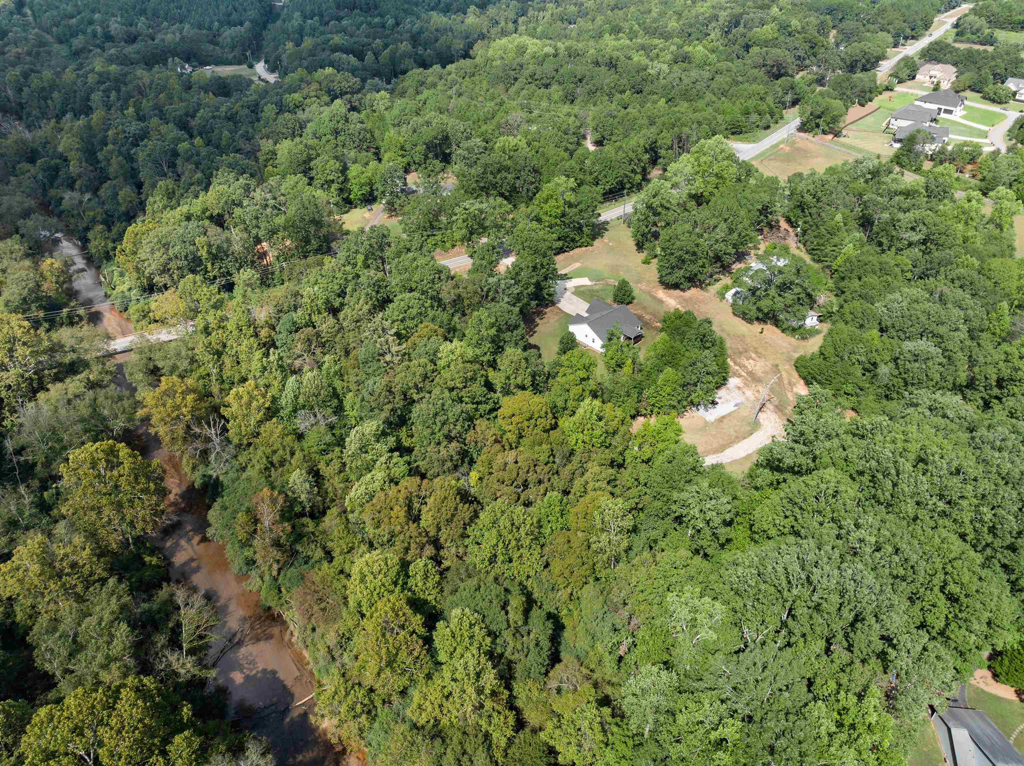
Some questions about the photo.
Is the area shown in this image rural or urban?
rural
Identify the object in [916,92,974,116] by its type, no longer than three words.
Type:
house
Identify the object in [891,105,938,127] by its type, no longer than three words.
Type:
house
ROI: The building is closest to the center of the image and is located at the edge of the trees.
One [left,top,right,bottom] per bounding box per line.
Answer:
[567,297,645,351]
